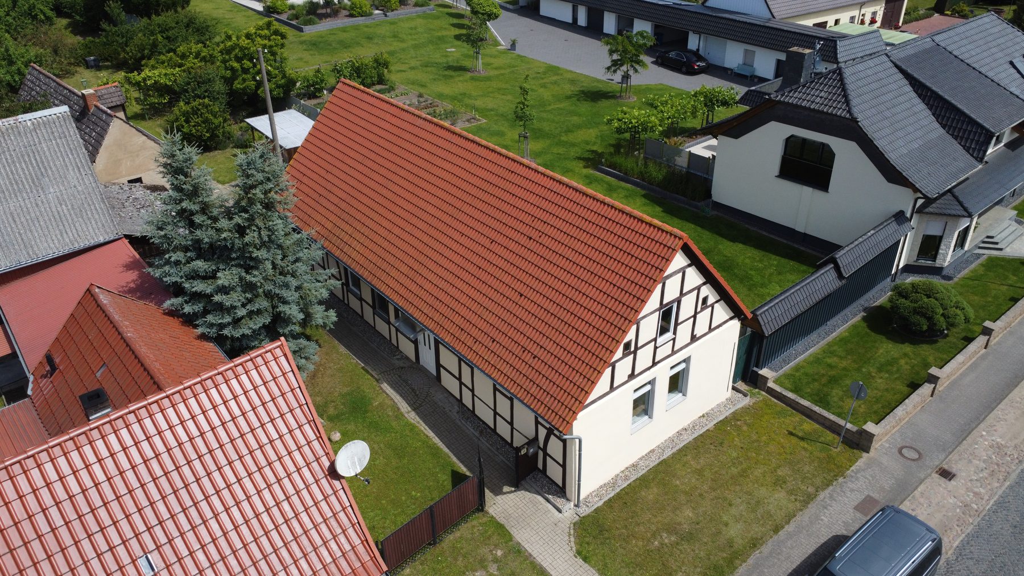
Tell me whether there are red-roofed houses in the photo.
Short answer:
Yes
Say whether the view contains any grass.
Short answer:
Yes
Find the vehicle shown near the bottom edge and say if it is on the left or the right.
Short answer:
right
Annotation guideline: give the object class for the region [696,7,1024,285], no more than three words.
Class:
house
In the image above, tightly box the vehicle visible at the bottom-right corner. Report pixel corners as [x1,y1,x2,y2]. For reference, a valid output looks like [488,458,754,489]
[816,507,939,576]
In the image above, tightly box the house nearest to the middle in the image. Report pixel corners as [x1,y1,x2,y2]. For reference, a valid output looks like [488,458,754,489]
[271,78,757,502]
